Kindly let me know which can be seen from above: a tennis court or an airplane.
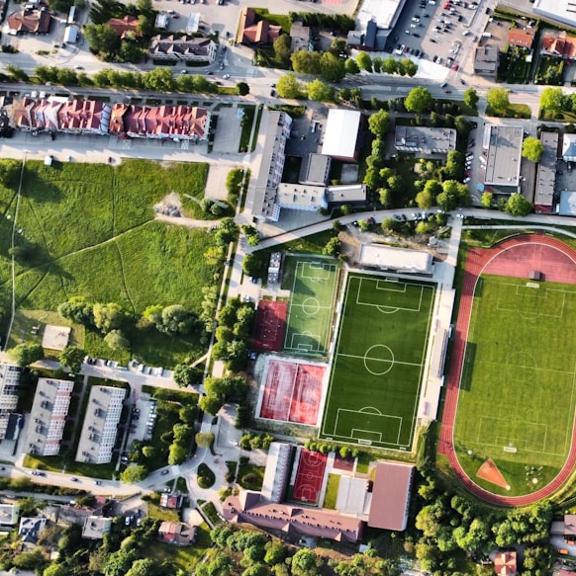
tennis court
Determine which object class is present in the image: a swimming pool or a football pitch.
football pitch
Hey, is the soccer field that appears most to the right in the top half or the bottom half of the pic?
bottom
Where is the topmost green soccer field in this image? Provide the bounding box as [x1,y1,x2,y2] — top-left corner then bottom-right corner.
[278,256,344,360]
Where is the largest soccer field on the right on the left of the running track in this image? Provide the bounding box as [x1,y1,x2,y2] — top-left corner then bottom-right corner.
[317,270,439,452]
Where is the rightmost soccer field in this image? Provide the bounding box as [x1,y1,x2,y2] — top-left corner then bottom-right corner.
[456,274,576,501]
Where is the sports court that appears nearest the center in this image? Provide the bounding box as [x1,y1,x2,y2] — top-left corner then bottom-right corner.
[254,301,288,352]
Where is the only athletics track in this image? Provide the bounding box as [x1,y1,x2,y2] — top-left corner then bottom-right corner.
[442,235,576,510]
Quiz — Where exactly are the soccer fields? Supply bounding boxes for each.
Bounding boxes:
[456,274,576,501]
[317,270,439,452]
[278,256,344,360]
